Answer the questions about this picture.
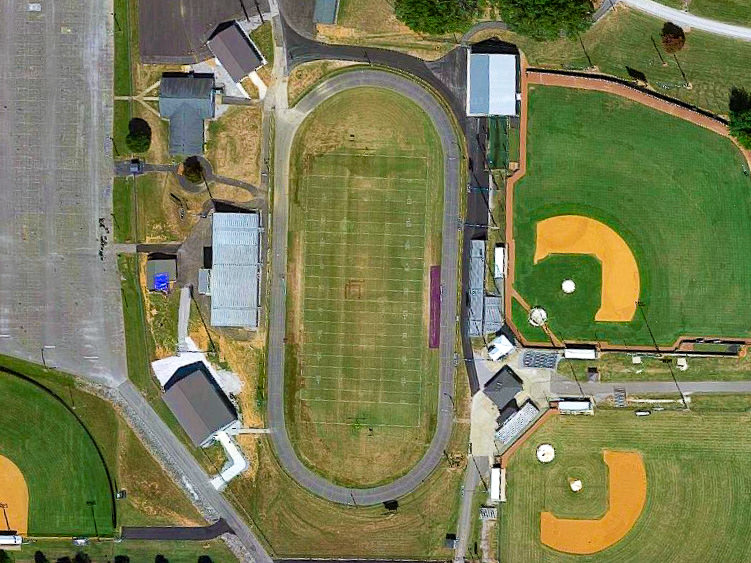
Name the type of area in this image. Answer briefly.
sports ground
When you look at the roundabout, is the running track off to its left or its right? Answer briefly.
on its right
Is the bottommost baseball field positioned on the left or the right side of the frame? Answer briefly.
right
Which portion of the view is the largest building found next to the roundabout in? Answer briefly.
top left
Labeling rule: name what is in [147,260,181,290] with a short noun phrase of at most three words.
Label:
building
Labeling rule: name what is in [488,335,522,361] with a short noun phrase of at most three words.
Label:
building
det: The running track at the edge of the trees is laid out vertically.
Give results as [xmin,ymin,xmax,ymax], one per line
[267,72,461,505]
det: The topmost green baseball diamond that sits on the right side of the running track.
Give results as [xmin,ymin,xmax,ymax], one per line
[505,48,751,359]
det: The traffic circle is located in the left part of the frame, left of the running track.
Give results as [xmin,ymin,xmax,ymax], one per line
[176,155,214,192]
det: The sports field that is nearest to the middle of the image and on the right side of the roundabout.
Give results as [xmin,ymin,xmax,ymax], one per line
[284,87,444,489]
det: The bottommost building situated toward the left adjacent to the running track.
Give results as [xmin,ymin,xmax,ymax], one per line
[162,369,242,446]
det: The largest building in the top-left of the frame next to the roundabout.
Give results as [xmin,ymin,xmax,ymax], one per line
[157,78,224,153]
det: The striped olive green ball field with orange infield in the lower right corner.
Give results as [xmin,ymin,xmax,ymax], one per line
[499,409,751,563]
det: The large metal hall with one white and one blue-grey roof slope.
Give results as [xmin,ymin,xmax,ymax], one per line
[470,54,522,114]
